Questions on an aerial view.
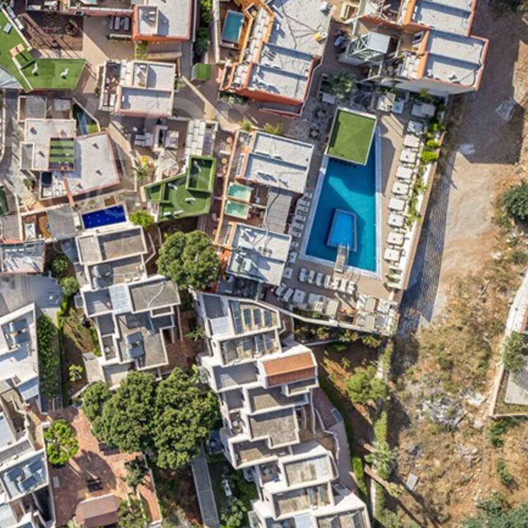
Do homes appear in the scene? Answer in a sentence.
Yes, the picture does show a home.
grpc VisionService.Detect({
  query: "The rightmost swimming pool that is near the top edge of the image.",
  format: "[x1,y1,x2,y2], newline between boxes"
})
[220,8,243,46]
